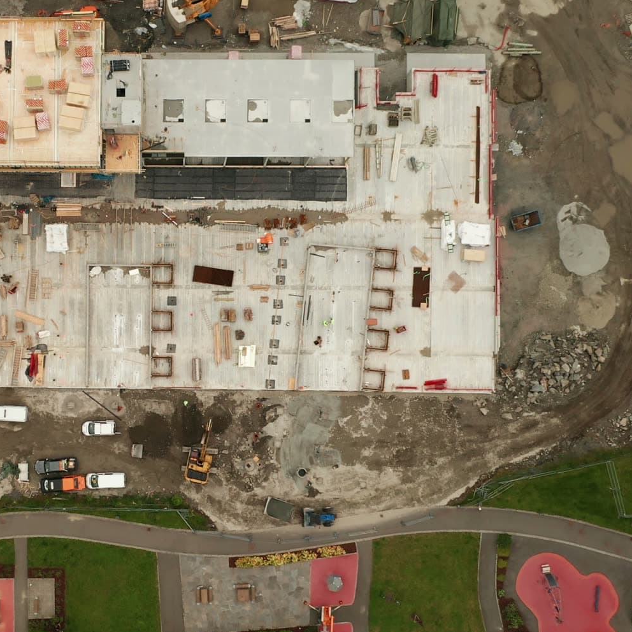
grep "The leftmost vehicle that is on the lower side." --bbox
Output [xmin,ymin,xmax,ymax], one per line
[0,406,29,419]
